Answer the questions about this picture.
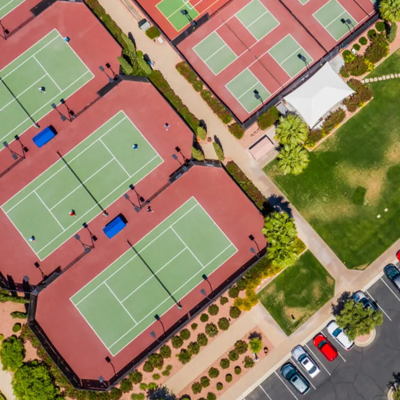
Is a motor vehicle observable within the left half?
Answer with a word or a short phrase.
No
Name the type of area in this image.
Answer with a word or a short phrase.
sports ground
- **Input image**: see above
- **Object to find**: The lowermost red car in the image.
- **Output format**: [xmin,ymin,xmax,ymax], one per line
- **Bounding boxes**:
[313,333,337,363]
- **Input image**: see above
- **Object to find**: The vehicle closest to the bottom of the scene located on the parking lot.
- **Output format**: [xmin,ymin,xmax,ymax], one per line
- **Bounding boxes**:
[281,361,310,396]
